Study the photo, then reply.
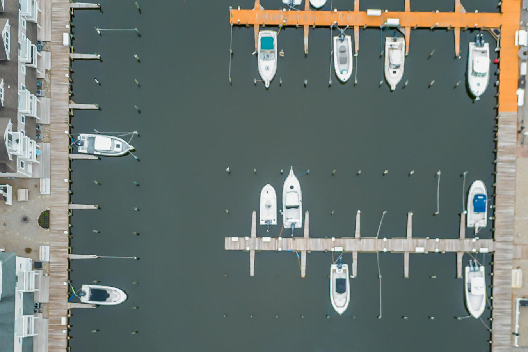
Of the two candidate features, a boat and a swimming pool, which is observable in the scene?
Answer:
boat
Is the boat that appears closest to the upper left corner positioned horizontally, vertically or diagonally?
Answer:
horizontally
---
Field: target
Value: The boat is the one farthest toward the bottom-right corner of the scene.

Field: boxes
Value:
[464,259,486,319]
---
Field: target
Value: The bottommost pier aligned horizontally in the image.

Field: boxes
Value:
[225,210,496,279]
